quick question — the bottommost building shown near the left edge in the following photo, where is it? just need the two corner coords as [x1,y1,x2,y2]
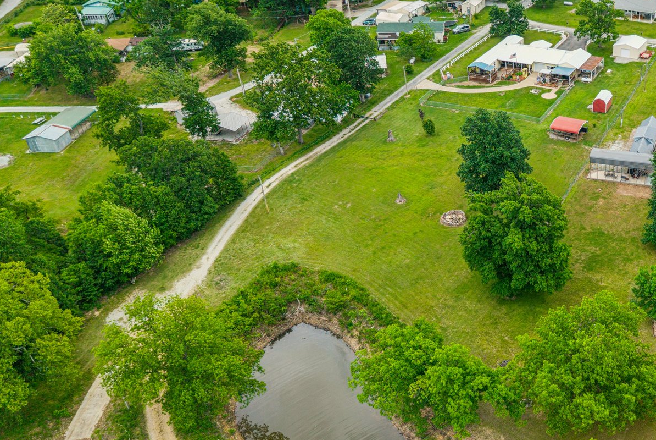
[21,101,97,153]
